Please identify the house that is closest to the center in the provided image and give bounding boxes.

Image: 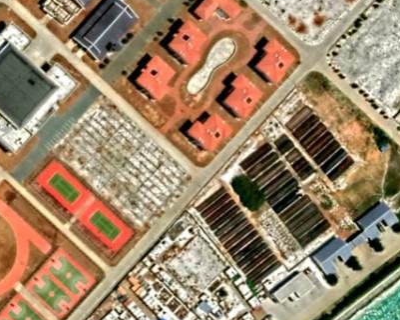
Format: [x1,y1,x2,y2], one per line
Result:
[187,115,236,151]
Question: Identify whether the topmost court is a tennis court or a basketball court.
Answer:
tennis court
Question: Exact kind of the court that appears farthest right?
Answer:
tennis court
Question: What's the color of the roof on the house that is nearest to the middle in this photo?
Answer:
red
